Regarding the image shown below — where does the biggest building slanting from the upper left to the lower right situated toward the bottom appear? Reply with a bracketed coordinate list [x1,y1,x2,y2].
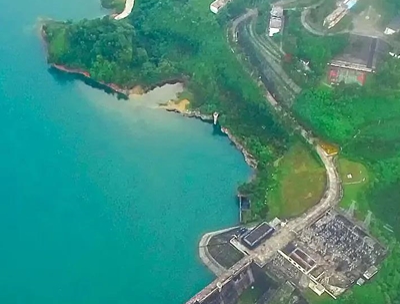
[279,245,327,280]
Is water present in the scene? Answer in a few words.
Yes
